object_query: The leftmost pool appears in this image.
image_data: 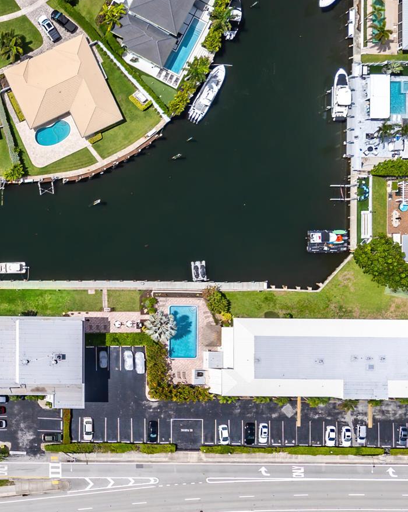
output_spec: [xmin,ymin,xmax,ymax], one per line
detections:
[34,119,71,147]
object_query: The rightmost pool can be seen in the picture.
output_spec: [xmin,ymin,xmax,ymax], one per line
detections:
[391,79,408,115]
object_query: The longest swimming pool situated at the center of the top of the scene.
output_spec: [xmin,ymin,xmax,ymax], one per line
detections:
[163,16,209,76]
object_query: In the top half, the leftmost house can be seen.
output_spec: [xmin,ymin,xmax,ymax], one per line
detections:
[3,34,124,138]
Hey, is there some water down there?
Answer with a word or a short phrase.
Yes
